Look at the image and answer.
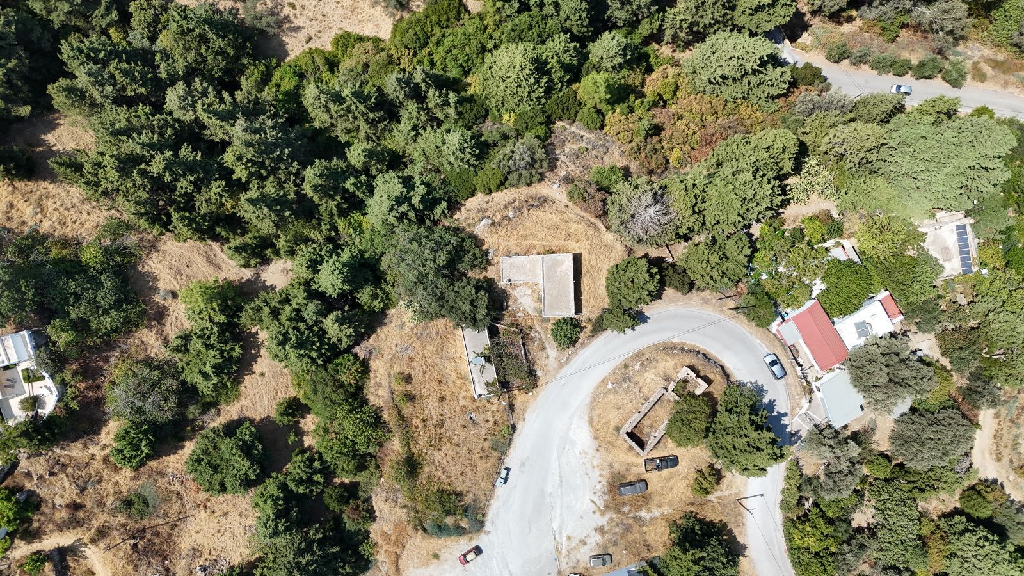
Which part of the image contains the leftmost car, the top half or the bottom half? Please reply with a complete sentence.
The bottom half of the photo is where the leftmost car is.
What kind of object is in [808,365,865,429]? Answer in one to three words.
house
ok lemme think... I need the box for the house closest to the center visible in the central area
[501,253,574,317]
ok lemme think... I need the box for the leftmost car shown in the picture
[458,543,484,565]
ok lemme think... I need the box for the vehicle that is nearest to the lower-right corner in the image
[763,352,785,380]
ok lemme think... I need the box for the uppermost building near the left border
[0,329,48,369]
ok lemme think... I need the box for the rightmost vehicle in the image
[887,83,912,96]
